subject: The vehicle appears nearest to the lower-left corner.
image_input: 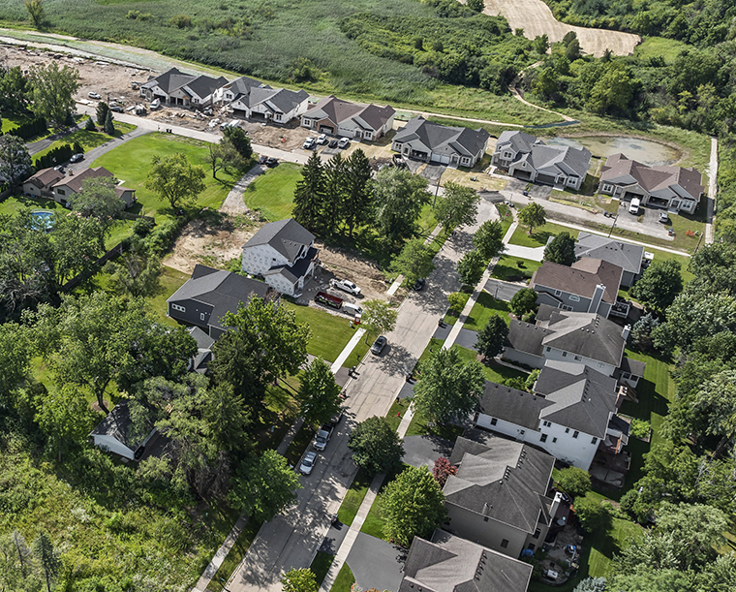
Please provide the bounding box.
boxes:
[300,451,318,473]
